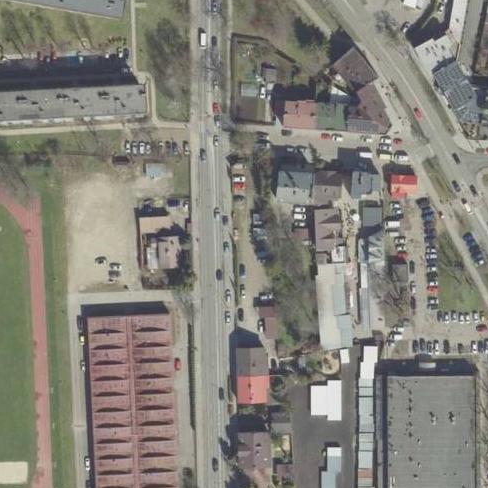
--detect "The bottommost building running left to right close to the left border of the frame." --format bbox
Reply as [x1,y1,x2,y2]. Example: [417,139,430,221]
[0,85,146,125]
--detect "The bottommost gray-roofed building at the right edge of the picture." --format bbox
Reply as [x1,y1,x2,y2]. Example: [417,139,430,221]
[387,376,476,488]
